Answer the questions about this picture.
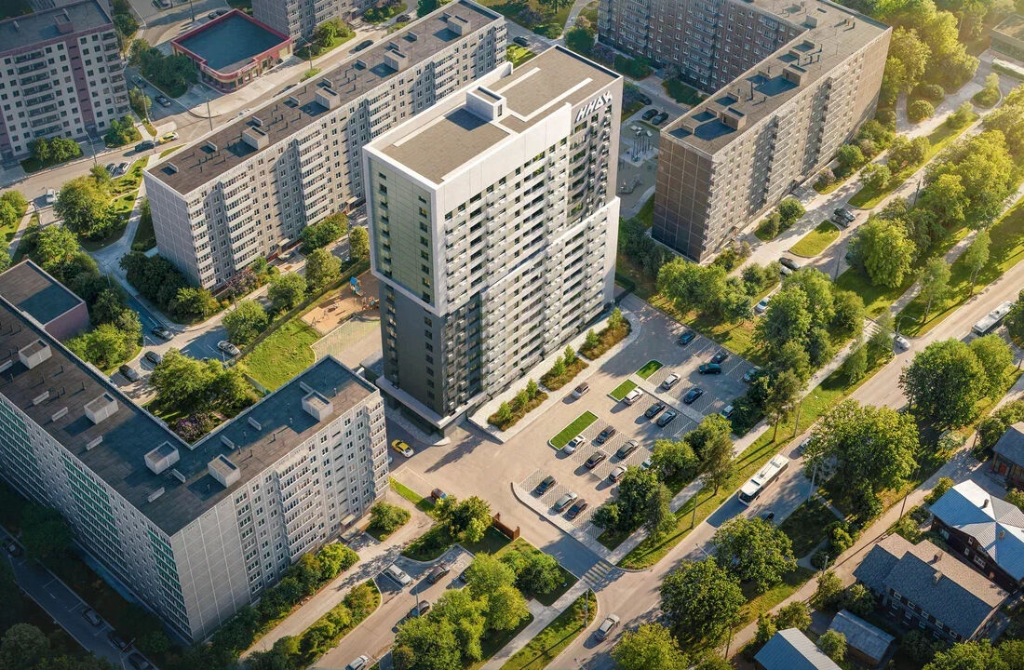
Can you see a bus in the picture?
Yes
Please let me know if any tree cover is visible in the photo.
Yes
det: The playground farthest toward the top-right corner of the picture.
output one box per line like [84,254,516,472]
[617,106,675,216]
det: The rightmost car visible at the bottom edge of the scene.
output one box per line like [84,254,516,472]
[594,614,620,639]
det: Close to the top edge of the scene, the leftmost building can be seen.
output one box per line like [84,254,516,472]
[0,2,133,164]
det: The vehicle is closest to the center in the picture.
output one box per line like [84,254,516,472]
[570,382,591,400]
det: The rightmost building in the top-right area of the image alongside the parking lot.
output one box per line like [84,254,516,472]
[600,0,893,255]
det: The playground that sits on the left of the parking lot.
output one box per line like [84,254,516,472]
[298,265,372,337]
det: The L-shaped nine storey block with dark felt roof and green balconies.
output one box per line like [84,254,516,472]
[0,296,393,643]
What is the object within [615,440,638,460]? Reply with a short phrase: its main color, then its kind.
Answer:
gray car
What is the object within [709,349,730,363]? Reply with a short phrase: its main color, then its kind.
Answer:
black car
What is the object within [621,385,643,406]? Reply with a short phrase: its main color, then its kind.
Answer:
white car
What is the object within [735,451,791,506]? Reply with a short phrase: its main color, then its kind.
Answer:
white bus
